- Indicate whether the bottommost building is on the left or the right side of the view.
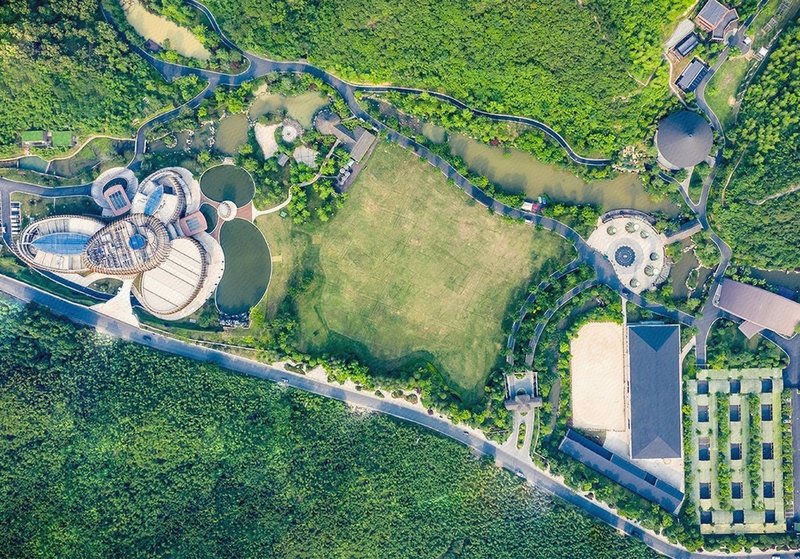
right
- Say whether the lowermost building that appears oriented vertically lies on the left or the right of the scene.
right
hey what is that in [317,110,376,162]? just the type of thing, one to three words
house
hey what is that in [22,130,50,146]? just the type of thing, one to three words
building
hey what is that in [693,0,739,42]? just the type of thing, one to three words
house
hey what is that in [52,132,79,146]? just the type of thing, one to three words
building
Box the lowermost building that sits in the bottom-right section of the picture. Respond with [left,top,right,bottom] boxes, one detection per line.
[559,429,684,511]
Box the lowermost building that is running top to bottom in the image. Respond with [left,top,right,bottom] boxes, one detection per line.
[627,322,681,458]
